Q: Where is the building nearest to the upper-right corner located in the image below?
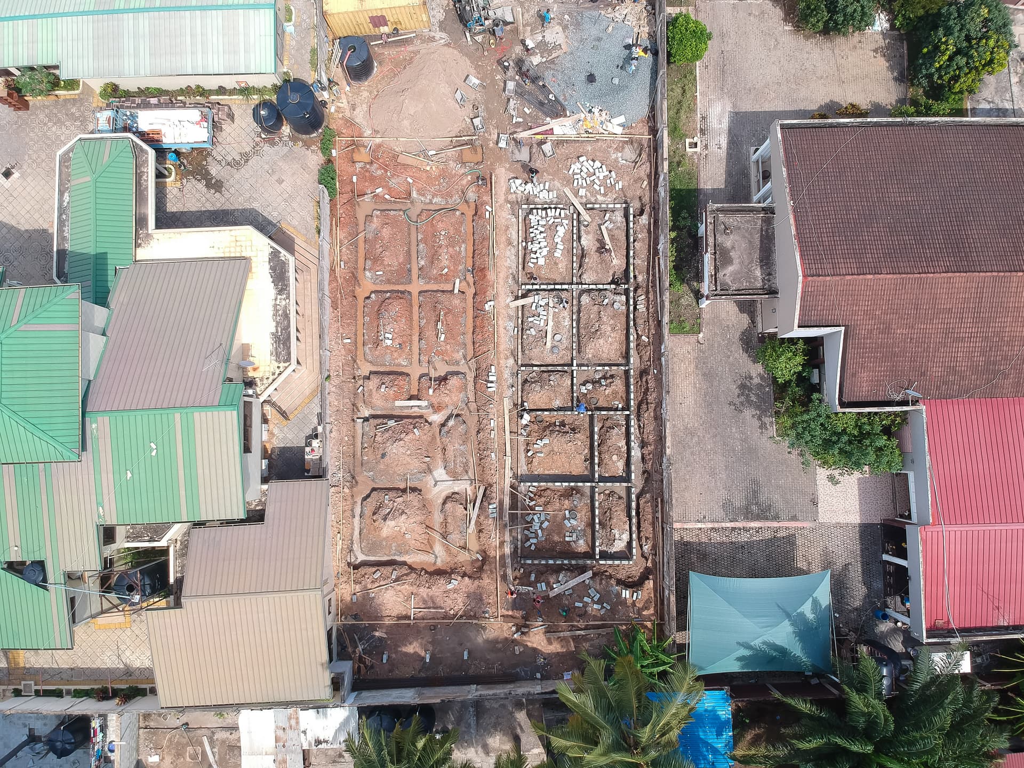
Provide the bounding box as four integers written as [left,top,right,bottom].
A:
[693,117,1024,410]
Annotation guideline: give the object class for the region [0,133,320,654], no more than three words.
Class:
building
